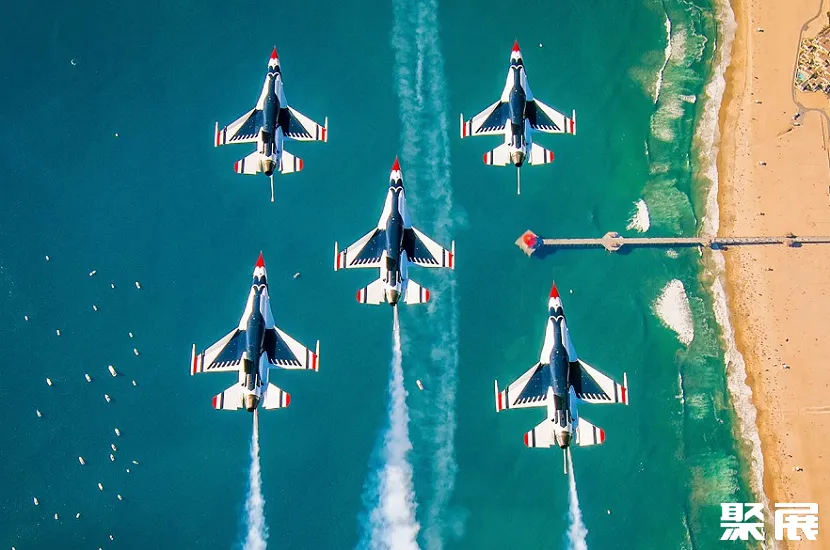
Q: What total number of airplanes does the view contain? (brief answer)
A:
5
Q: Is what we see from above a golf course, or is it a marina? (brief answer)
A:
marina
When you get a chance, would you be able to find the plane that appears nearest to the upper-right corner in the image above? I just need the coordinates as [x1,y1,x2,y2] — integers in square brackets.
[461,45,575,194]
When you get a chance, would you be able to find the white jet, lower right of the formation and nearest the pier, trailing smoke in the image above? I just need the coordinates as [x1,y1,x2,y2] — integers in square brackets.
[496,282,627,473]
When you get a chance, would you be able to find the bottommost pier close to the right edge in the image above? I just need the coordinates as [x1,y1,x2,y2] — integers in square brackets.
[516,229,830,256]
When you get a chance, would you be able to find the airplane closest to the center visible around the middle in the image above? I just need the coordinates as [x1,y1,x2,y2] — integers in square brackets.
[335,159,453,328]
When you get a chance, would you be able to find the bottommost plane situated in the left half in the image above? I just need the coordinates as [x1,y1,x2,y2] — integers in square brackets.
[191,252,318,435]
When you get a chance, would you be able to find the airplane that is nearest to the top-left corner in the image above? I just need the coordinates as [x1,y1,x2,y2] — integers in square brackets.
[214,48,327,200]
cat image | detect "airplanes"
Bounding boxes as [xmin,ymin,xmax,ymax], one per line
[335,159,453,328]
[191,252,318,435]
[214,48,327,200]
[496,282,627,473]
[461,45,575,194]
